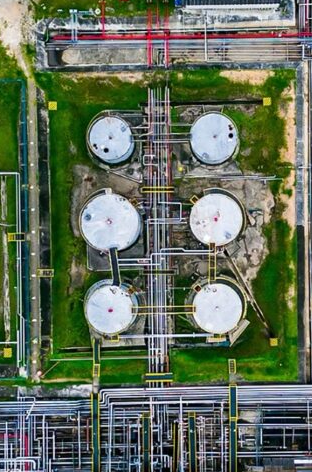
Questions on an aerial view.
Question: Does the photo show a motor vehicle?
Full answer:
No, I can see no motor vehicle in this picture.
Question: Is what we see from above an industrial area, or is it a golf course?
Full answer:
This image shows an industrial area.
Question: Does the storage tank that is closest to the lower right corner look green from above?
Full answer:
No, from above the storage tank that is closest to the lower right corner looks white.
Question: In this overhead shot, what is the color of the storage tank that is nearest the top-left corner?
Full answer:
In this view, the storage tank that is nearest the top-left corner is white.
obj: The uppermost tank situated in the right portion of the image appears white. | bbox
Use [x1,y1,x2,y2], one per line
[190,114,241,168]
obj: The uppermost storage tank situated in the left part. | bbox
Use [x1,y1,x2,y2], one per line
[84,108,139,170]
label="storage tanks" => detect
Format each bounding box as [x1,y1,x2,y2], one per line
[76,183,145,257]
[190,114,241,168]
[84,108,139,170]
[189,186,250,250]
[84,281,142,336]
[191,277,248,333]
